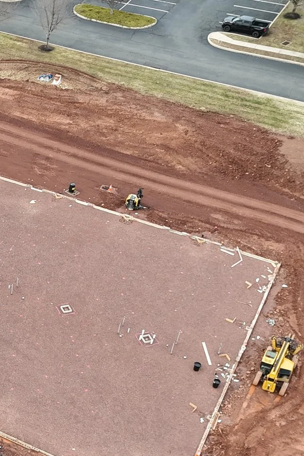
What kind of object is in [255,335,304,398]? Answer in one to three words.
work vehicle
